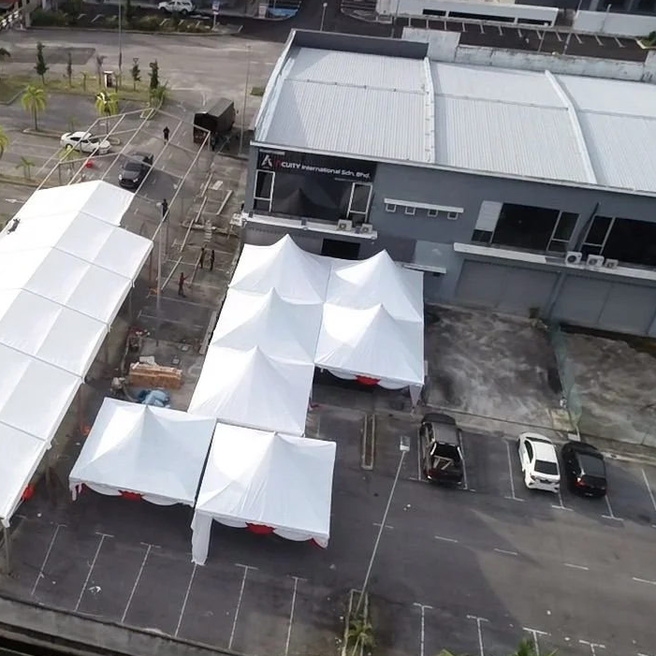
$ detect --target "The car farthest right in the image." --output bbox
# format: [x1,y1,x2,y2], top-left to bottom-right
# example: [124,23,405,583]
[553,426,610,492]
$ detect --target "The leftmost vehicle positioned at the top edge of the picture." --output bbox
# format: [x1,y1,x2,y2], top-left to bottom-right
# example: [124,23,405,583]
[161,0,200,15]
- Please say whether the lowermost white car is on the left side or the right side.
right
